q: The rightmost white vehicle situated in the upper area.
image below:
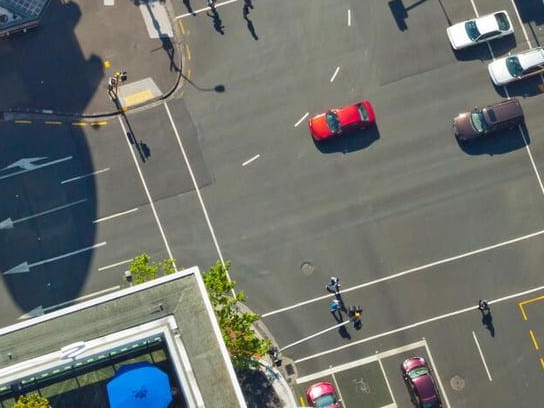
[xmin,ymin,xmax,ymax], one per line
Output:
[487,44,544,88]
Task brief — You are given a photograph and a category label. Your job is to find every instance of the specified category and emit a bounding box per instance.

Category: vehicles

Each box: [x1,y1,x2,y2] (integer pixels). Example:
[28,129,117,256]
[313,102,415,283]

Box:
[487,44,544,88]
[446,9,515,52]
[307,97,379,142]
[452,95,527,142]
[309,381,343,408]
[401,354,445,408]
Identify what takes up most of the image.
paved ground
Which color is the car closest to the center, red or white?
red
